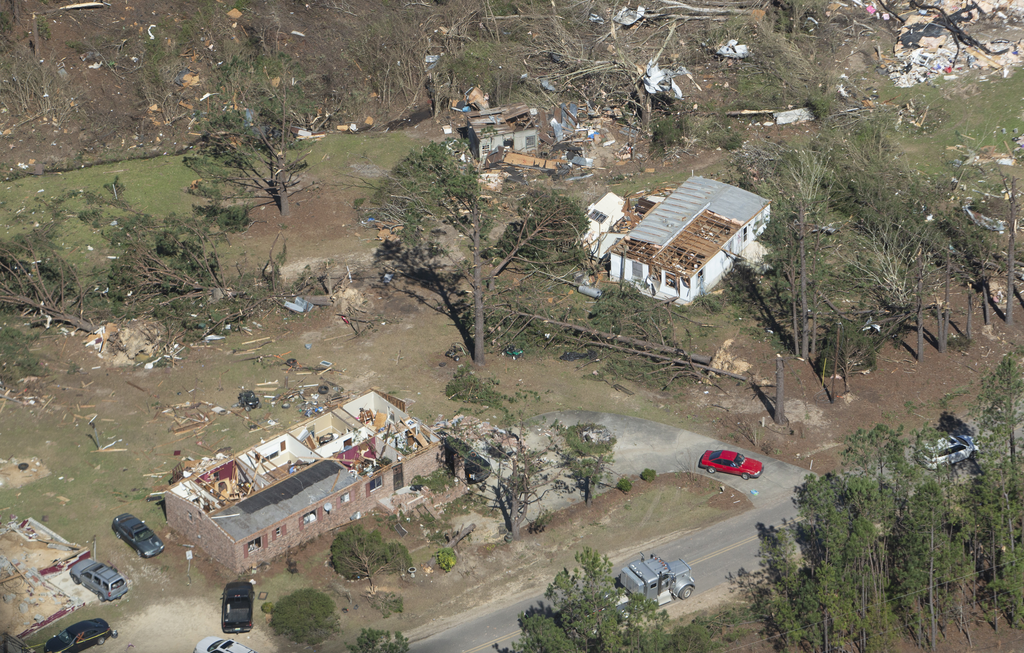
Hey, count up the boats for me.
0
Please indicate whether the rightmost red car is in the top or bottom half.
bottom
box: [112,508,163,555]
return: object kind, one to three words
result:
car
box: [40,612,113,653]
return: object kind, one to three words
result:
car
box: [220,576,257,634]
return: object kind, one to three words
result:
truck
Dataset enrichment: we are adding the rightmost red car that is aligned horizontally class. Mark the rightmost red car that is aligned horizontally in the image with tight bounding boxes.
[698,447,766,478]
